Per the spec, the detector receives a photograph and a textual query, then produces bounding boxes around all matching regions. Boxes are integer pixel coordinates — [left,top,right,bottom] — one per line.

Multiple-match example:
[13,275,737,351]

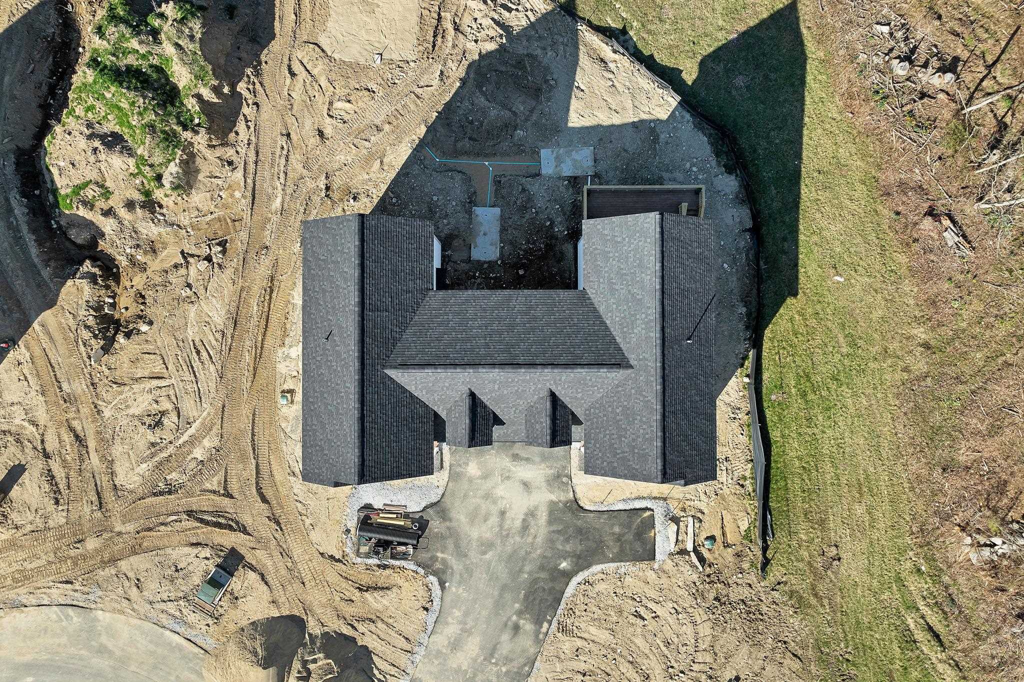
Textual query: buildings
[302,211,715,487]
